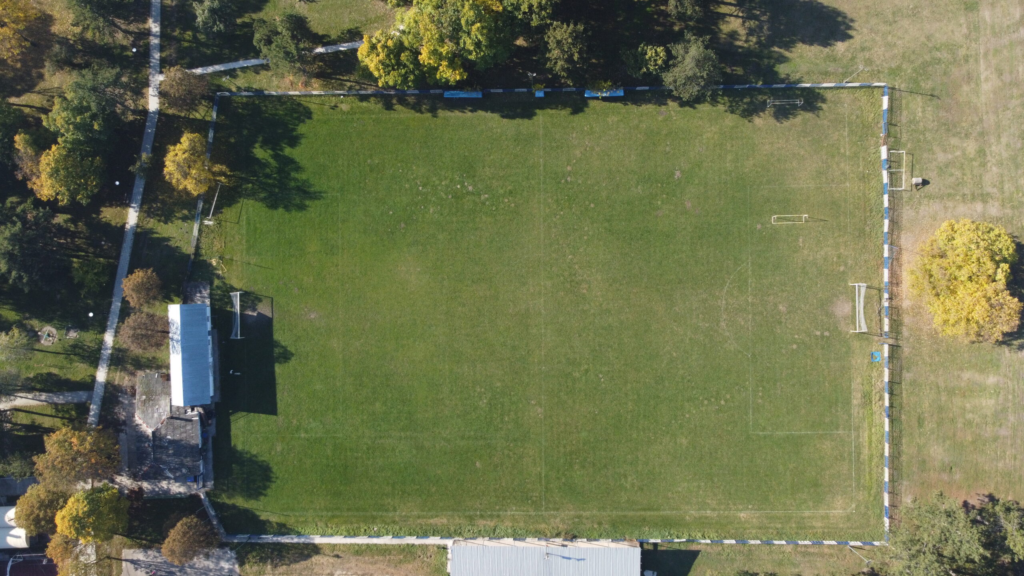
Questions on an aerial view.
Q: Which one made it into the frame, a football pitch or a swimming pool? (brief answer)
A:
football pitch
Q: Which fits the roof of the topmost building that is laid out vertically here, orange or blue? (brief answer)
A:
blue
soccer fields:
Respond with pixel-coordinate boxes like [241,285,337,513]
[244,106,860,517]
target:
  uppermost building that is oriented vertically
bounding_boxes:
[170,304,216,407]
